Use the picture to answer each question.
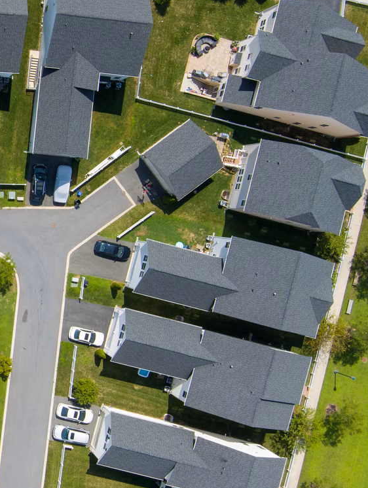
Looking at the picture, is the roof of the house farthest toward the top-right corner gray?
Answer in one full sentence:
Yes, gray is the color of the roof of the house farthest toward the top-right corner.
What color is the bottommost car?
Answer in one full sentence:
The color of the bottommost car is white.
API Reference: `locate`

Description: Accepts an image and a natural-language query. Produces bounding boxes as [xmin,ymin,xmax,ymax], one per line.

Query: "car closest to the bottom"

[51,424,90,446]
